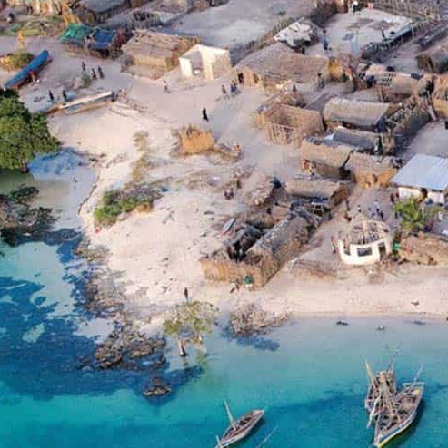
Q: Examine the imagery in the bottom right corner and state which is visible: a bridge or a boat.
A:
boat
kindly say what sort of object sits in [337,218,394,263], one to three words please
house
